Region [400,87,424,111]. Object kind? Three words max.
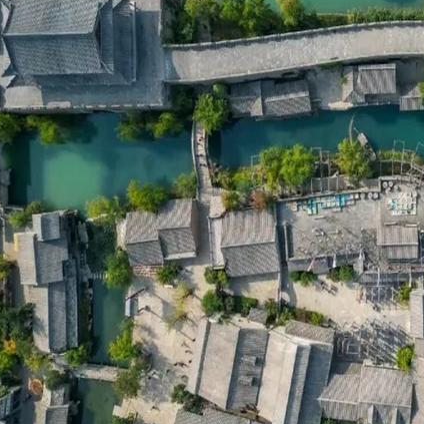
house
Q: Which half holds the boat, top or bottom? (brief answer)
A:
top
